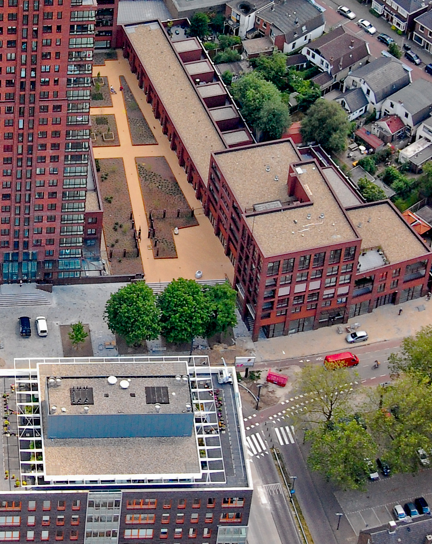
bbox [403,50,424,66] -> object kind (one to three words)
car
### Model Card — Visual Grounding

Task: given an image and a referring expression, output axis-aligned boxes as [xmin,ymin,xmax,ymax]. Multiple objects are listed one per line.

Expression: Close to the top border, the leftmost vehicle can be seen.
[336,7,357,21]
